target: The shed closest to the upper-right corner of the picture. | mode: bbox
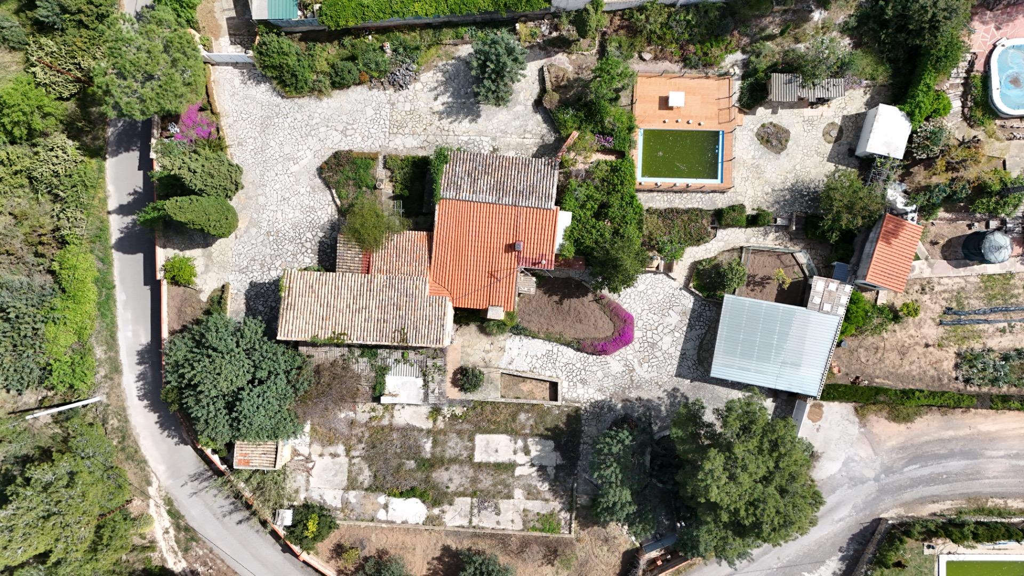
[853,104,911,162]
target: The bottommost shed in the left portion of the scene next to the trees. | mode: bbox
[230,433,297,469]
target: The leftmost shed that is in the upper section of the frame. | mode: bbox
[252,0,306,31]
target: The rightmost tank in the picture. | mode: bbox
[966,229,1016,263]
